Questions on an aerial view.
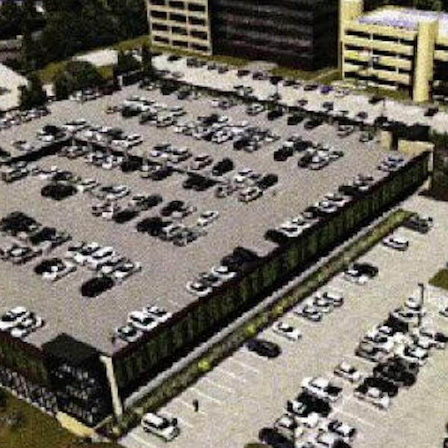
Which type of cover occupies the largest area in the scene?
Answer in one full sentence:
The largest share of the image is taken up by buildings.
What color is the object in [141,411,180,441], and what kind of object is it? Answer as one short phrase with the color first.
white car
